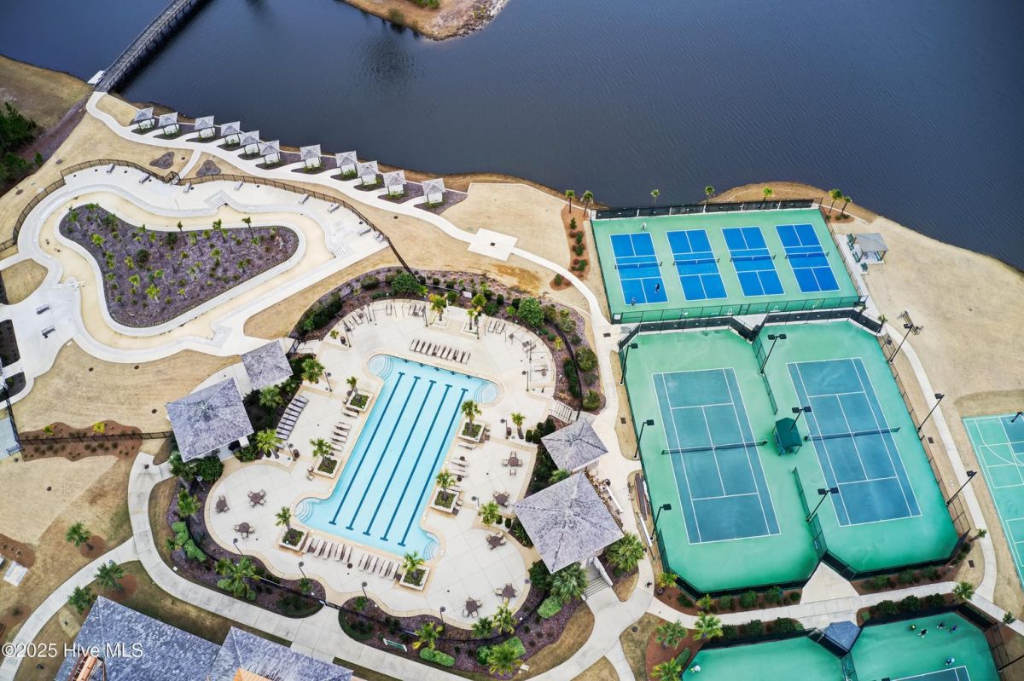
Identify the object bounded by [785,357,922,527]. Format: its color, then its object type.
blue tennis court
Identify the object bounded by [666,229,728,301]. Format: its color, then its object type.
blue sports court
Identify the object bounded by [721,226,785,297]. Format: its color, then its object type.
blue sports court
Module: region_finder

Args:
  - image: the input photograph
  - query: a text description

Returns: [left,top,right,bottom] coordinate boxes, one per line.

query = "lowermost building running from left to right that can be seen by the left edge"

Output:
[43,596,222,681]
